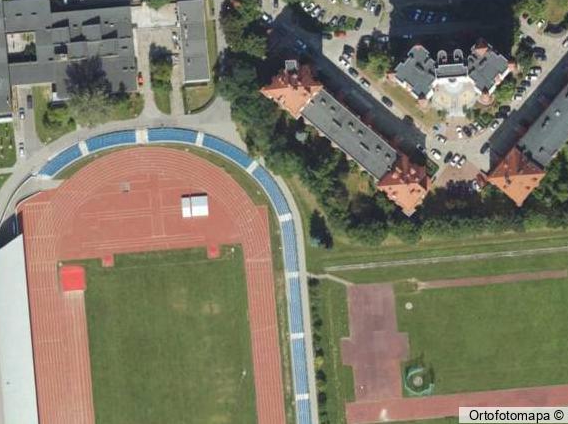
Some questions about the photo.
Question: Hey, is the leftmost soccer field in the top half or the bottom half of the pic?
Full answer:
It is in the bottom half that the leftmost soccer field appears.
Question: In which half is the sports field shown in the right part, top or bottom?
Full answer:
You can find the sports field shown in the right part in the bottom half.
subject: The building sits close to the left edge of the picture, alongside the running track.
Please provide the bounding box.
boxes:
[0,0,138,123]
